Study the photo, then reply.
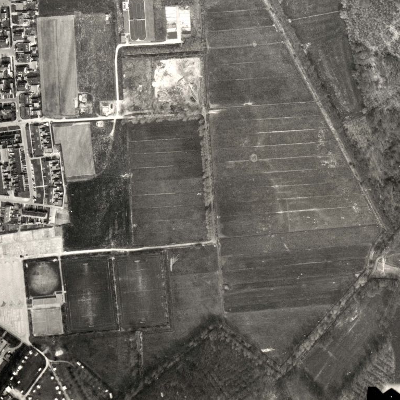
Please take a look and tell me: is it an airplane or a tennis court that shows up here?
tennis court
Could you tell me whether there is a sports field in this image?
Yes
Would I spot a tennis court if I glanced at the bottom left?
Yes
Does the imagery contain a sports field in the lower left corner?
Yes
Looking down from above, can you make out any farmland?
Yes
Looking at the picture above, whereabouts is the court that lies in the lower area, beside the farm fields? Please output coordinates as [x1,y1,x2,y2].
[32,293,62,336]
